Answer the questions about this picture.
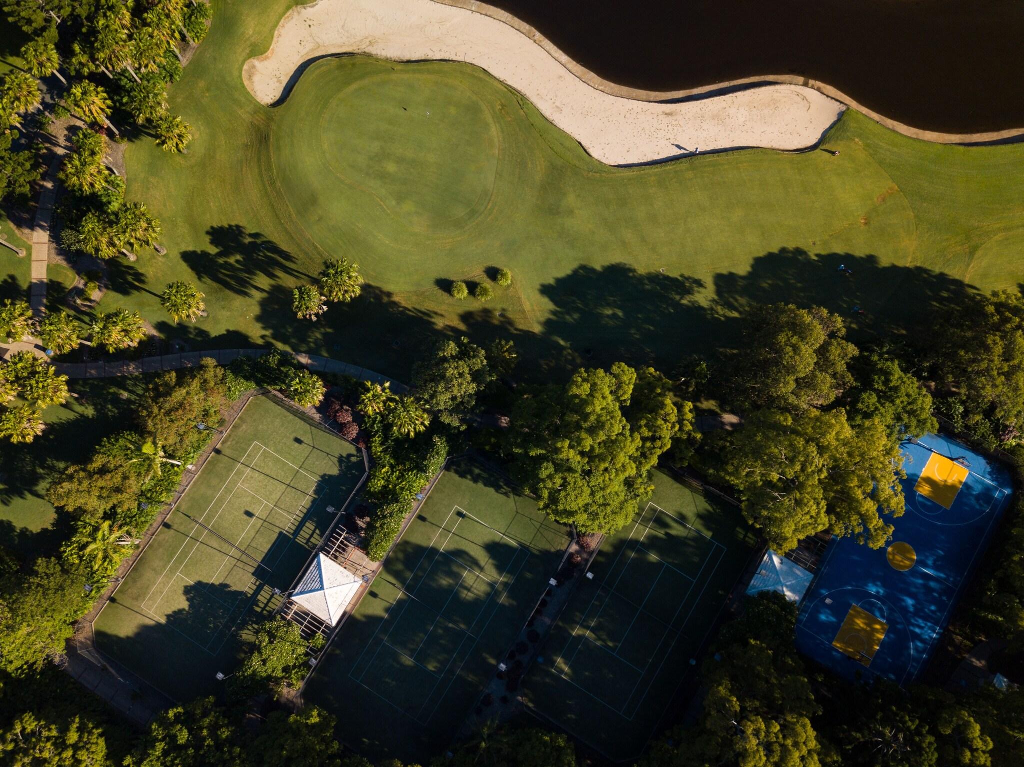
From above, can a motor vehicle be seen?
No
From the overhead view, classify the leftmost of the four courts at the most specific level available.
tennis court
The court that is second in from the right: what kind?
tennis court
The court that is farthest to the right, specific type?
basketball court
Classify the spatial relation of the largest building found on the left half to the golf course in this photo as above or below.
below it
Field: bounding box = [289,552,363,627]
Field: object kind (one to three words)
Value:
building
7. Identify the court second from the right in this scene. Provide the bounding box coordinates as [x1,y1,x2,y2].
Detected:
[521,468,756,764]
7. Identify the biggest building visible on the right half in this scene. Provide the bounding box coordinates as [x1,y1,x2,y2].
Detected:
[742,549,815,608]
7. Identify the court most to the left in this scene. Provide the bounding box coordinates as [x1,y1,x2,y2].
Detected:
[92,391,368,706]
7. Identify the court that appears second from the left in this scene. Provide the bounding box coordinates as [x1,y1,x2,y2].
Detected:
[301,456,577,767]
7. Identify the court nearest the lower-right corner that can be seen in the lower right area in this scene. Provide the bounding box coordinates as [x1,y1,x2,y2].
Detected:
[798,424,1015,703]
